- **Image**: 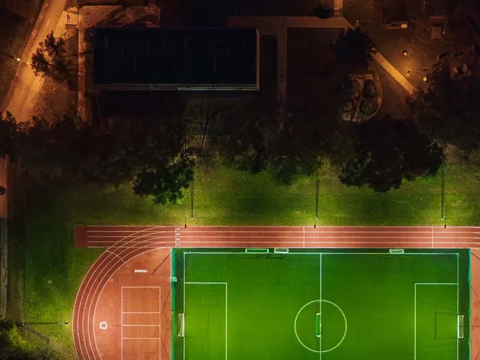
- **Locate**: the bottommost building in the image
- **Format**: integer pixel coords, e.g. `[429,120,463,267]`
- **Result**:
[94,27,258,90]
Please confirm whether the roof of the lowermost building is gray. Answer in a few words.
No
